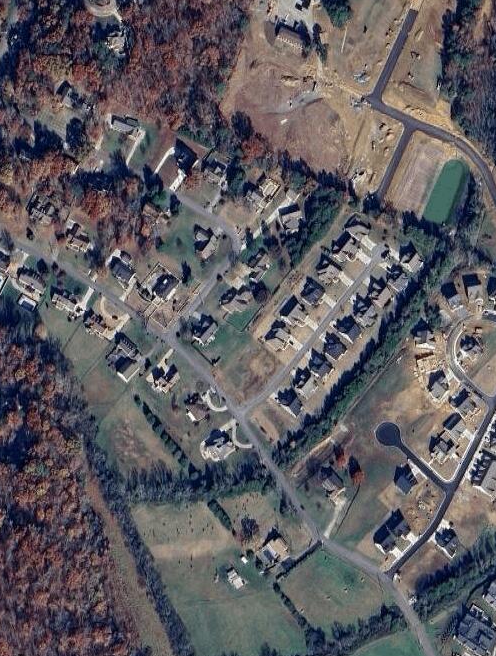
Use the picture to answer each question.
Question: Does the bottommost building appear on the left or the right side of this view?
right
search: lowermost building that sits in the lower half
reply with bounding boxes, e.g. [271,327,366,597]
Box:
[454,610,496,655]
